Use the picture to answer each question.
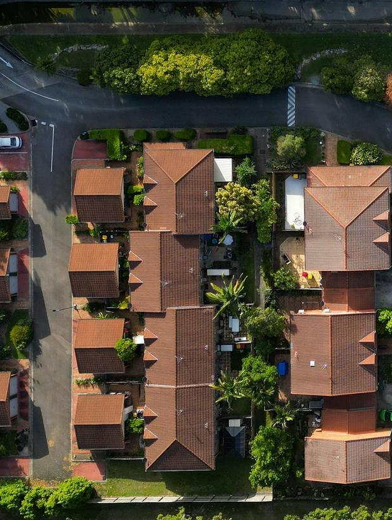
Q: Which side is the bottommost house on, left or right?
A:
right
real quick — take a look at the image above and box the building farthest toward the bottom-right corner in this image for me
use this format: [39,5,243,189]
[304,429,392,485]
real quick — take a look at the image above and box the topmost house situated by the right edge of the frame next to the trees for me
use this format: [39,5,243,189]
[300,186,391,273]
